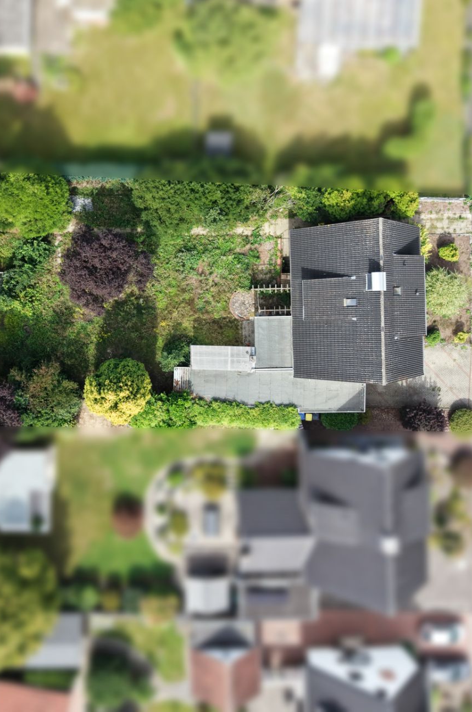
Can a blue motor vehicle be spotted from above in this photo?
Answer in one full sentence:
No, no blue motor vehicle can be seen from above.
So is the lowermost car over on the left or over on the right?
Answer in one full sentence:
The lowermost car sits on the right side.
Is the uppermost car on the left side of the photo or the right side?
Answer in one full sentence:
The uppermost car appears in the right half of the scene.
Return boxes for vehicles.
[413,617,467,643]
[418,654,472,682]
